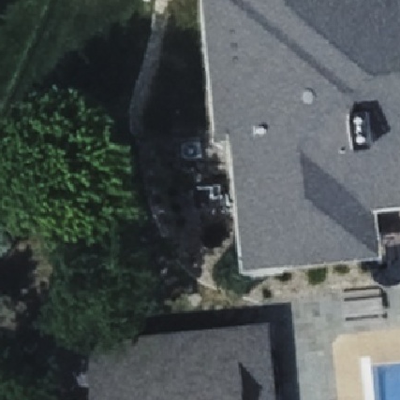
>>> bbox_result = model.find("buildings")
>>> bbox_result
[198,0,400,275]
[84,323,276,400]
